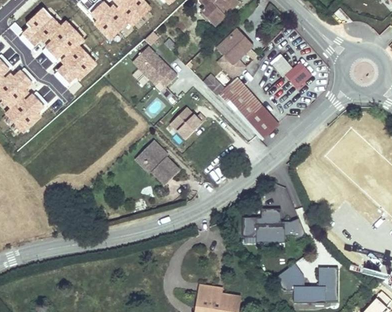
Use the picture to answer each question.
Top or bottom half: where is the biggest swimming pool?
top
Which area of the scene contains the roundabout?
top right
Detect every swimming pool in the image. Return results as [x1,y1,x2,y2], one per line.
[144,96,168,120]
[170,132,185,147]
